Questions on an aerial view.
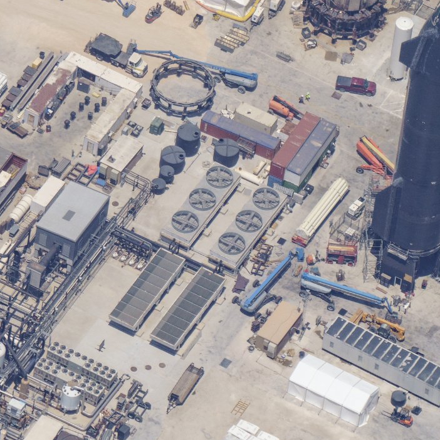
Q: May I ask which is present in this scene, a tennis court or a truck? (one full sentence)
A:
There is a truck in the scene.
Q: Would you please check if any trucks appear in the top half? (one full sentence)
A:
Yes, I can see a truck in the top half.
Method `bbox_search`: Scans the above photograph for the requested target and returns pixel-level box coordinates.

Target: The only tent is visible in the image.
[284,358,378,428]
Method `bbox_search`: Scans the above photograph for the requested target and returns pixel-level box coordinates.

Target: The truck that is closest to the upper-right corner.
[336,76,375,98]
